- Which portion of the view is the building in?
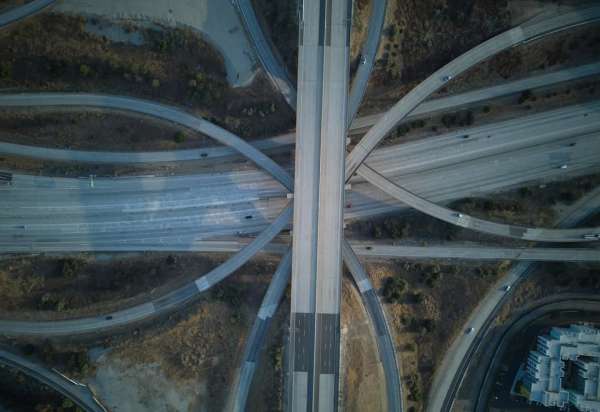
bottom right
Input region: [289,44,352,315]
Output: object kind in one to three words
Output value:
bridge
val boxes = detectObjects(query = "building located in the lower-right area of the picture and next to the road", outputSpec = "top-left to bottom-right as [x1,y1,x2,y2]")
[524,325,600,412]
